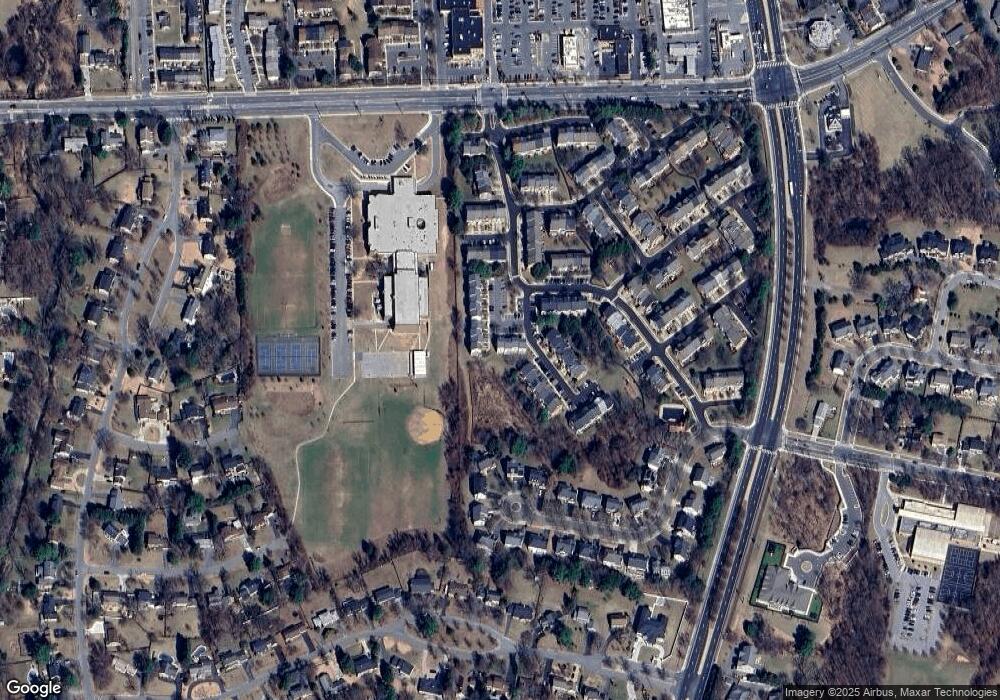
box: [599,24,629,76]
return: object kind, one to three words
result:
building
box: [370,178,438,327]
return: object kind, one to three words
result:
building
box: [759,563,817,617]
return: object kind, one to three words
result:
house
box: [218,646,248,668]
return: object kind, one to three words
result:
house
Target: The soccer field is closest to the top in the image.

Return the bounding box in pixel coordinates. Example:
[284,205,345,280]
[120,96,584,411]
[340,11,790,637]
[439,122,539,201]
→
[254,206,318,334]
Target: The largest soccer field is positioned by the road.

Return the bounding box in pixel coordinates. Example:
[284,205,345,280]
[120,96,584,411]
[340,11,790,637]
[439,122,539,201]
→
[298,386,444,551]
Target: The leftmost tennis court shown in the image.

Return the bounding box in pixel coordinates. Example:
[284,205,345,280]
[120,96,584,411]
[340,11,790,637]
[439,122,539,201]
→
[257,336,320,376]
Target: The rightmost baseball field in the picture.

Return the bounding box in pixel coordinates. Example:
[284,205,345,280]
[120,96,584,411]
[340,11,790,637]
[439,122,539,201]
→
[404,402,443,445]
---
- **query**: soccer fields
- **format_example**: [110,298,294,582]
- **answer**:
[298,386,444,551]
[254,206,318,334]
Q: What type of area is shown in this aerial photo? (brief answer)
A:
residential area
